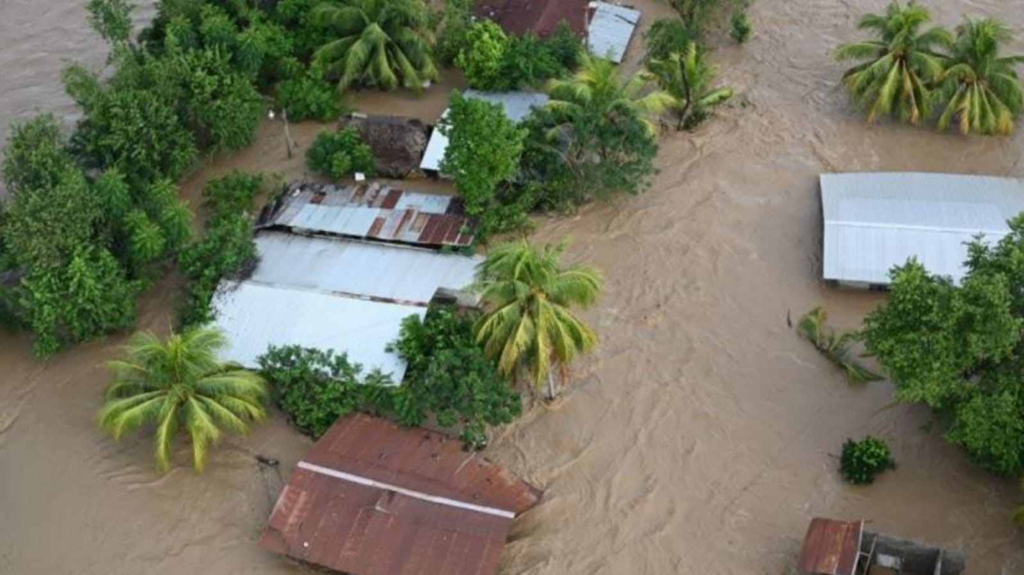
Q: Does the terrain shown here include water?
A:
Yes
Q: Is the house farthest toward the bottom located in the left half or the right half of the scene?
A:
right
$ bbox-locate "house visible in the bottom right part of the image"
[798,519,965,575]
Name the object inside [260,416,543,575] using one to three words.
house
